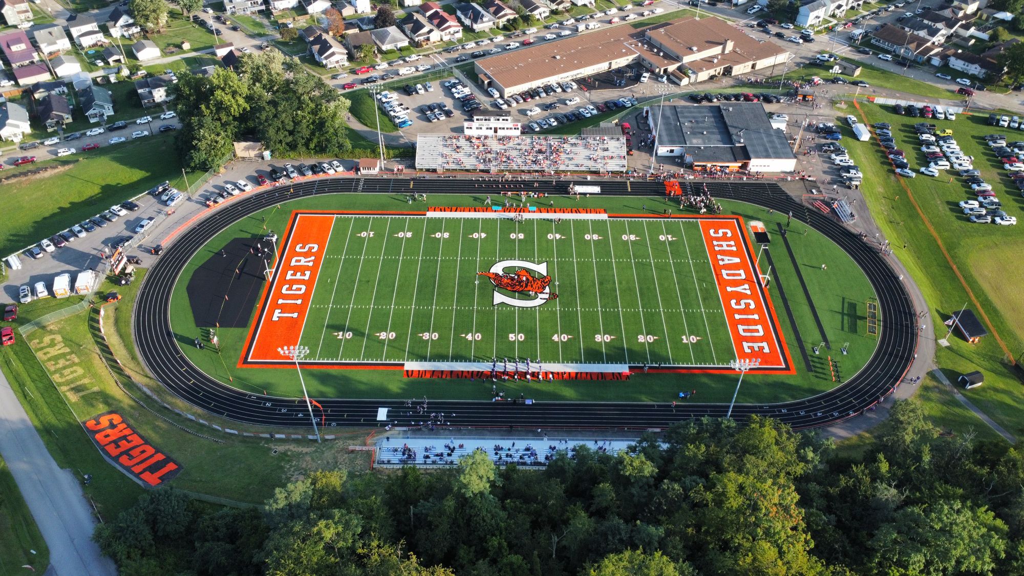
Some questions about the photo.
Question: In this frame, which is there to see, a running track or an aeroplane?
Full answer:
There is a running track in the scene.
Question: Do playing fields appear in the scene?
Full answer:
Yes, the photo shows a playing field.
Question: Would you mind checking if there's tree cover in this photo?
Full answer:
Yes, there's tree cover in this view.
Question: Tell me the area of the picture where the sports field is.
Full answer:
The sports field is located in the center region of the scene.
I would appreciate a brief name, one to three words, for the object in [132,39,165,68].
building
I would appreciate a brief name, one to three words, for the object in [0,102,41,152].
house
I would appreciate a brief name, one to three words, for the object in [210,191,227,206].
vehicle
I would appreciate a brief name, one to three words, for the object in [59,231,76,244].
vehicle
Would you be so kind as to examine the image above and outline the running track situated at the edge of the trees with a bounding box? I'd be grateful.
[138,177,913,434]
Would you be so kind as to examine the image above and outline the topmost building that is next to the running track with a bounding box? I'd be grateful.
[473,11,791,97]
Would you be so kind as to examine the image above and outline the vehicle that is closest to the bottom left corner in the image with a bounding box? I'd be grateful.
[1,326,16,347]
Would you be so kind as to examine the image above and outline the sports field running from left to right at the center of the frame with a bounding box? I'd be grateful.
[294,215,738,366]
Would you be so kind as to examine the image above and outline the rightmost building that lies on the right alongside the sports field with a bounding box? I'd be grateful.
[649,101,797,172]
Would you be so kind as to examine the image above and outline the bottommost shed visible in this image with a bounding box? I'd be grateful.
[955,370,988,394]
